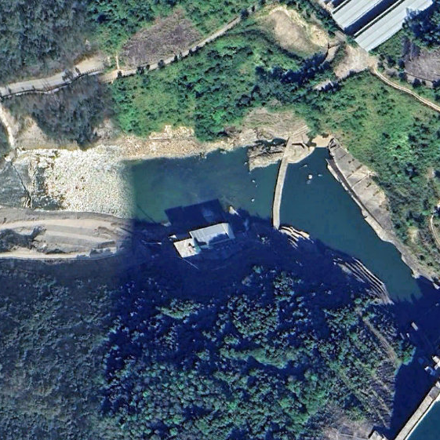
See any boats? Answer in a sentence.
No, the scene contains no boat.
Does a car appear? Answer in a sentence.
No, I can't see a single car in this photo.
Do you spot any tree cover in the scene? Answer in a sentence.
Yes, tree cover shows up in the scene.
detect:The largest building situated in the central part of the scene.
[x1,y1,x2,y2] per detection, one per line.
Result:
[174,223,236,258]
